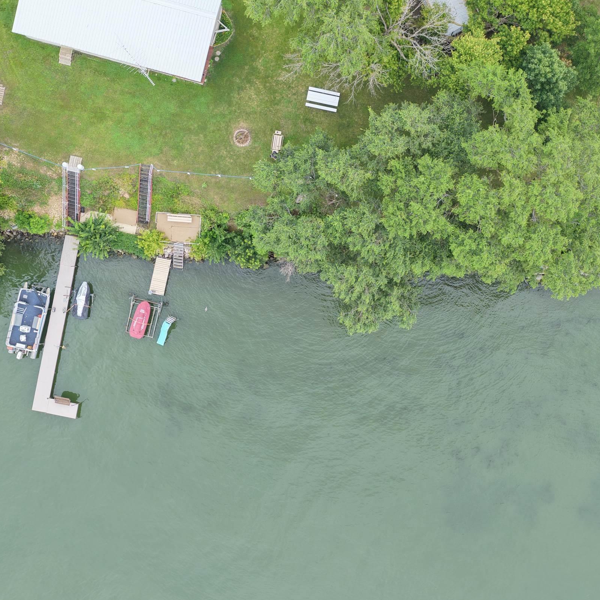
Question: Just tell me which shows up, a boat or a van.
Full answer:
The one in the frame is a boat.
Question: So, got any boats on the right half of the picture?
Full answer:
No, on the right half of the picture there is no boat.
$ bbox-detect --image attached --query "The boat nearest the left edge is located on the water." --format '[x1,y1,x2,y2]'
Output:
[4,281,53,358]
